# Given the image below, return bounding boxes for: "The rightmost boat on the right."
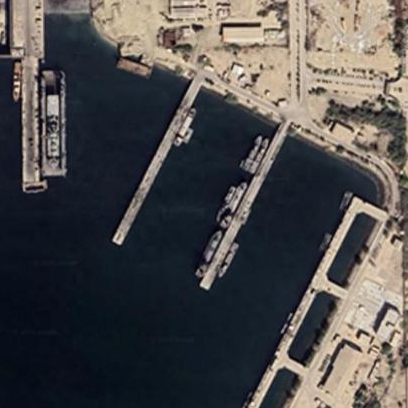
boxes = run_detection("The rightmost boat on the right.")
[340,192,354,211]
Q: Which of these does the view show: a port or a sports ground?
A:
port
